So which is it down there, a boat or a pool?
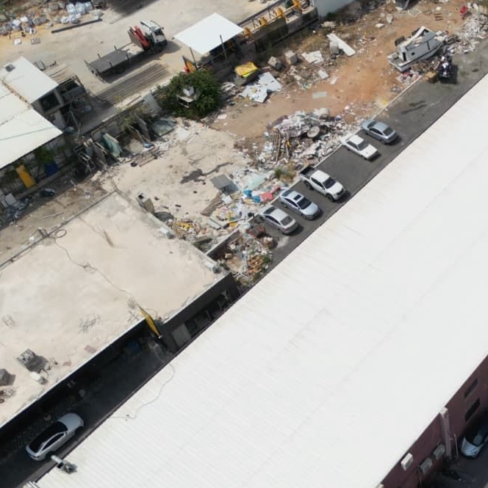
boat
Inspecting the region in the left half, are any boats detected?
No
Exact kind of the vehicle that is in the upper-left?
truck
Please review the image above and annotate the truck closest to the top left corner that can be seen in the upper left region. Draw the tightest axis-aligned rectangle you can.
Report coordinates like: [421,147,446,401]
[85,21,171,73]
